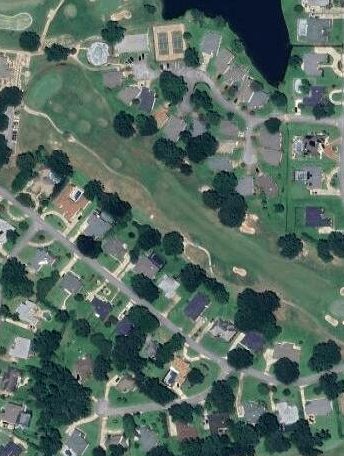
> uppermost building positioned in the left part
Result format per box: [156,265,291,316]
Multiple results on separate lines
[118,34,151,53]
